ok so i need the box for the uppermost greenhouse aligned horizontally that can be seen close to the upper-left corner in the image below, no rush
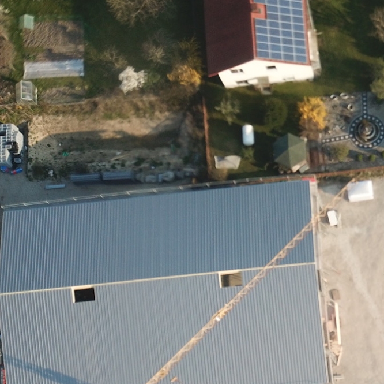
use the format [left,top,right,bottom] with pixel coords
[21,59,84,78]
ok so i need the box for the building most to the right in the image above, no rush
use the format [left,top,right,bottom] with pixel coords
[349,182,374,205]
